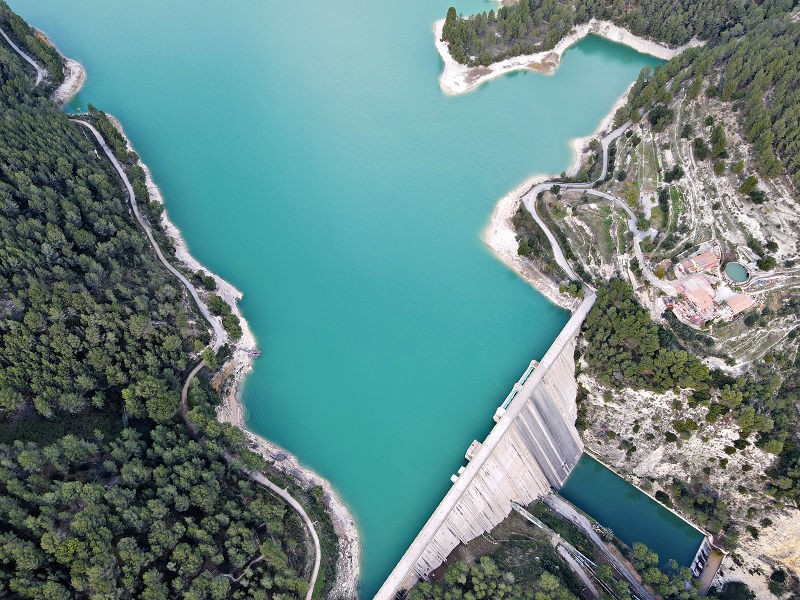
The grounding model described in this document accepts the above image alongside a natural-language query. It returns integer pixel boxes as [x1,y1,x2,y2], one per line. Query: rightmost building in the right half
[726,294,754,316]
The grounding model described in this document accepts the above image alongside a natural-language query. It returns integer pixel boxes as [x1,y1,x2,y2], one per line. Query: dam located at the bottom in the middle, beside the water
[372,292,595,600]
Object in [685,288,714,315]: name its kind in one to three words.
house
